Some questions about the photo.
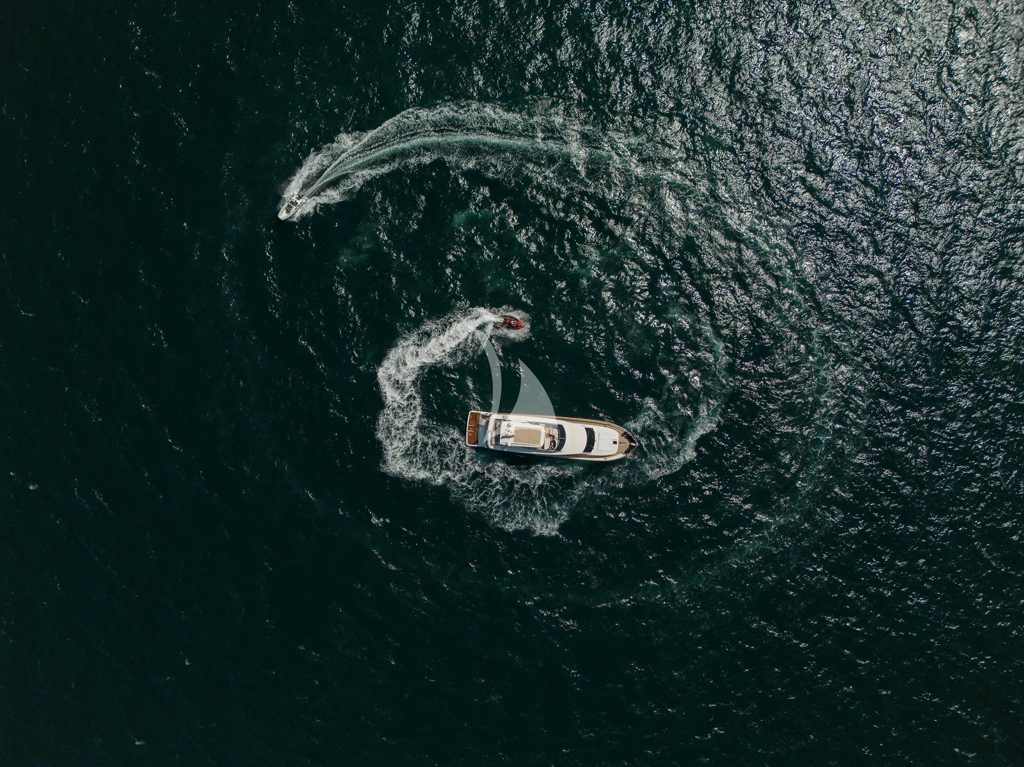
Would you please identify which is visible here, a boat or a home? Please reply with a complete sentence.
The one in the frame is a boat.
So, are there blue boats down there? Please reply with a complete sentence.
No, I can see no blue boat in this picture.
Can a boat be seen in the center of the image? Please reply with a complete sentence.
Yes, looking in the center of the image, one can make out a boat.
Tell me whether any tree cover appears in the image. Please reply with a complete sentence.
No, no tree cover is visible.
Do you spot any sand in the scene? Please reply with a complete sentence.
No, sand can't be seen anywhere here.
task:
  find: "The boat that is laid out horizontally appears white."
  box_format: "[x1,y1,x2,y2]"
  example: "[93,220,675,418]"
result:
[466,411,638,461]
